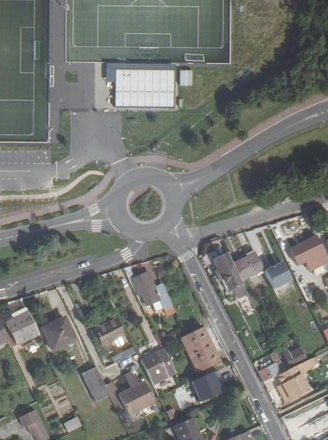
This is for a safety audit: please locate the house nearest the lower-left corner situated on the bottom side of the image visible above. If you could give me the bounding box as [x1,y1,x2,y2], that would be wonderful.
[19,409,50,440]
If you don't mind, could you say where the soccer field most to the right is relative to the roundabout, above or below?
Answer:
above it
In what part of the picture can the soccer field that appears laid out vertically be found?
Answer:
top left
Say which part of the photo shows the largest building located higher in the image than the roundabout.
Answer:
top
